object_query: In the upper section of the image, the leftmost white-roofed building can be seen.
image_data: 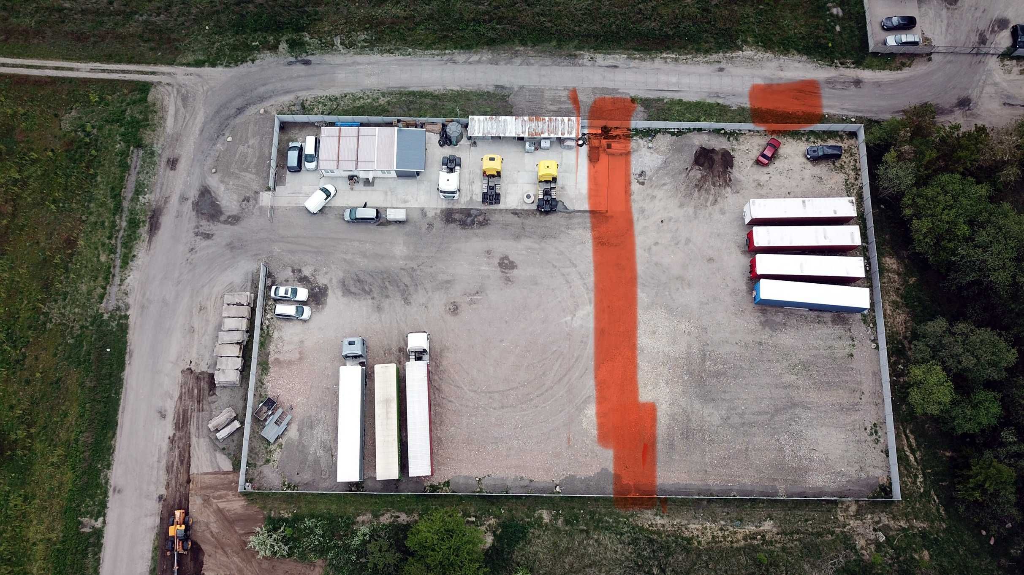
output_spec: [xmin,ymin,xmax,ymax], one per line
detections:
[319,126,427,187]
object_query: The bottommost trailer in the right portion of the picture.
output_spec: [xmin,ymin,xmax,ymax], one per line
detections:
[753,279,870,314]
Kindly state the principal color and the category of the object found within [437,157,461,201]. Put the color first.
white truck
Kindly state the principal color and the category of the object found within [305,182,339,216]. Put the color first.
white van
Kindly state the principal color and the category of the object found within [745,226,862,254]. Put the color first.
white trailer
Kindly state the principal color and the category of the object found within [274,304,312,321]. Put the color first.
white car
